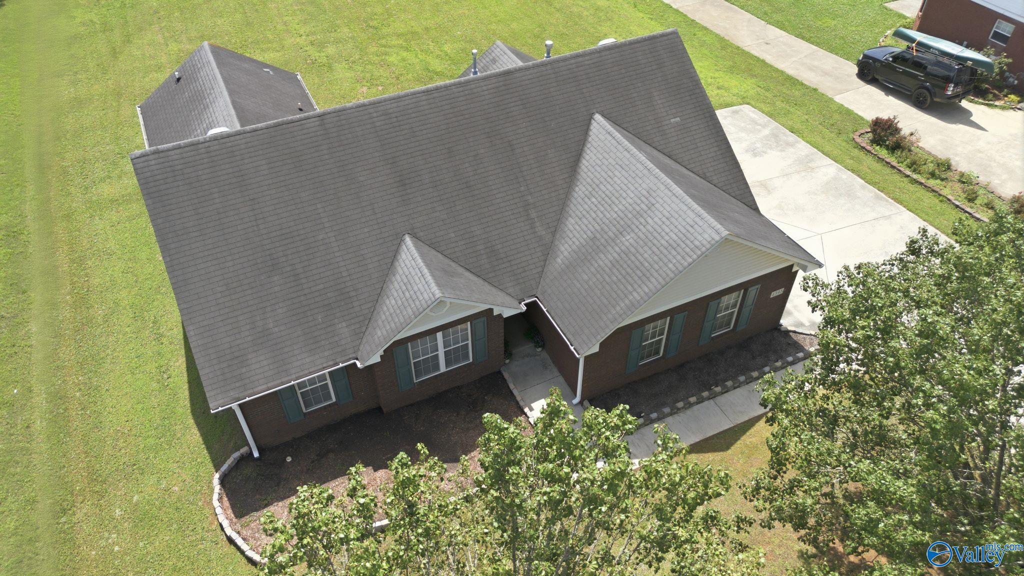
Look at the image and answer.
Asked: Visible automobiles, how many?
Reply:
1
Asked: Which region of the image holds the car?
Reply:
top right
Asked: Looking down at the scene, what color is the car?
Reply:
black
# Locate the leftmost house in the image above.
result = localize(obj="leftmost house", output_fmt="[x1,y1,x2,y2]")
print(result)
[132,30,823,461]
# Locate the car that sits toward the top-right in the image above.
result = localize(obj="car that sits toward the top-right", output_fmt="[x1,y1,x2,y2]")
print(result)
[858,43,981,109]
